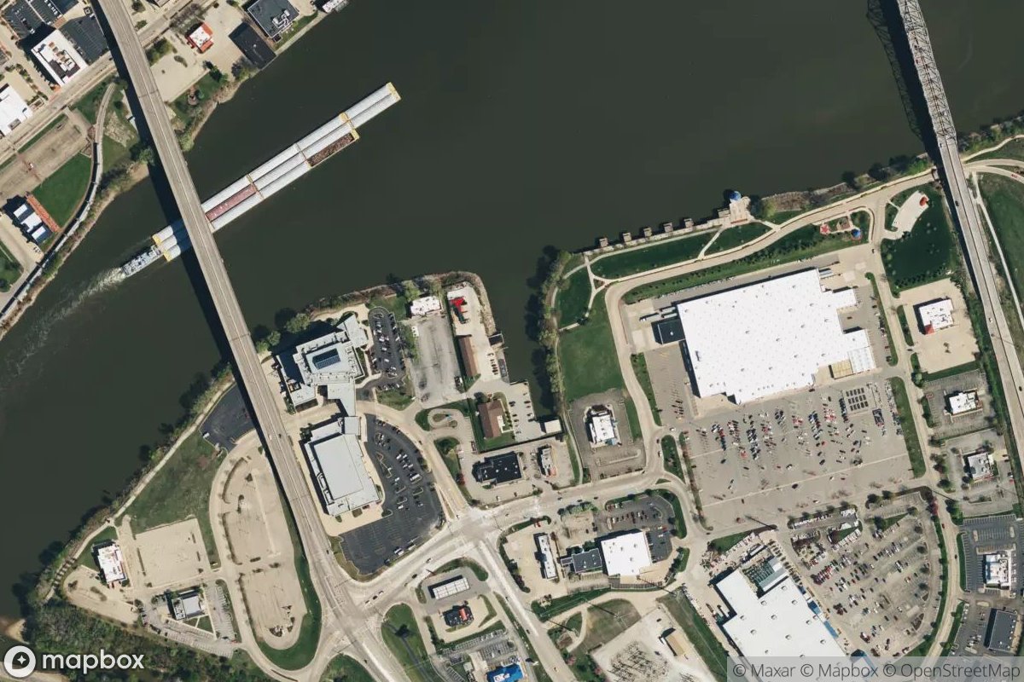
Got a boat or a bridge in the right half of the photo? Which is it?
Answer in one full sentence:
Visible in the right half of the photo is a bridge.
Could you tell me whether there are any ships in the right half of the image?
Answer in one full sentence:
No, I can find no ship in the right half of the image.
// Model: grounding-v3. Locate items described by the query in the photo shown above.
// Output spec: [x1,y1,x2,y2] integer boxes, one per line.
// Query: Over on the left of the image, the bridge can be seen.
[98,0,334,567]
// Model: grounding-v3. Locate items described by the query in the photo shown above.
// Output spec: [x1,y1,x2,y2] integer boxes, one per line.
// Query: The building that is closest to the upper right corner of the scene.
[920,299,955,334]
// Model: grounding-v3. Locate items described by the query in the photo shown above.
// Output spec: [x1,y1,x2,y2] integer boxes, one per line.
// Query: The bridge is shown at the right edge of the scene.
[899,0,1024,454]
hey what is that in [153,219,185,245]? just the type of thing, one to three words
ship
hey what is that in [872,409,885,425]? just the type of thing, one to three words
vehicle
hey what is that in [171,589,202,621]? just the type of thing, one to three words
building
